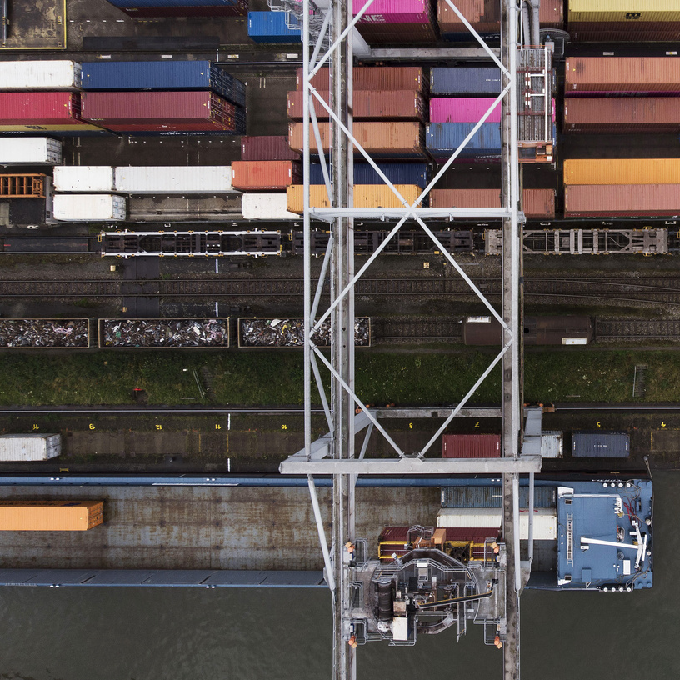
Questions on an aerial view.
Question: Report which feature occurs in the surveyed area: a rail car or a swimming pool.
rail car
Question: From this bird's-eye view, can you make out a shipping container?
Yes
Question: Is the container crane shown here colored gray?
Yes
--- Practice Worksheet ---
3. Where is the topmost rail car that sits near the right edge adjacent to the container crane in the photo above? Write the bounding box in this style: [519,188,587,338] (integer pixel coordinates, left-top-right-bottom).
[480,227,673,256]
